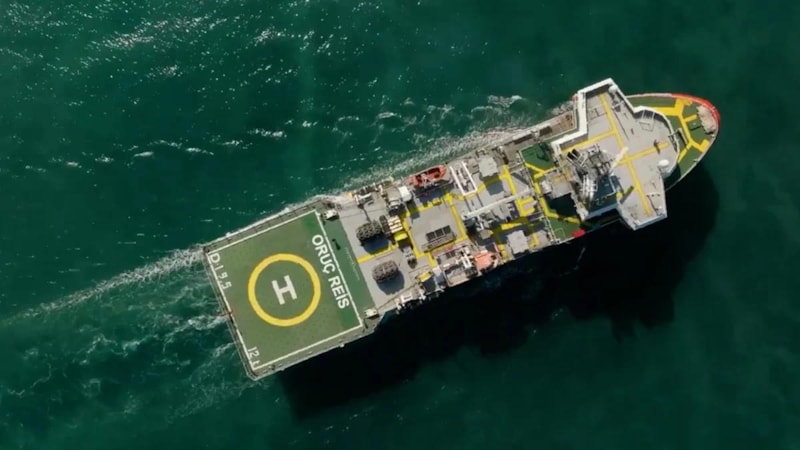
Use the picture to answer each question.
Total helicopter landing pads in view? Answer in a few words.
1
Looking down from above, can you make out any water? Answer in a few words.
Yes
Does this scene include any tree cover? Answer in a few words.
No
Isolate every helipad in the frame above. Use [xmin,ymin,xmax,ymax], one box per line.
[198,197,375,378]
